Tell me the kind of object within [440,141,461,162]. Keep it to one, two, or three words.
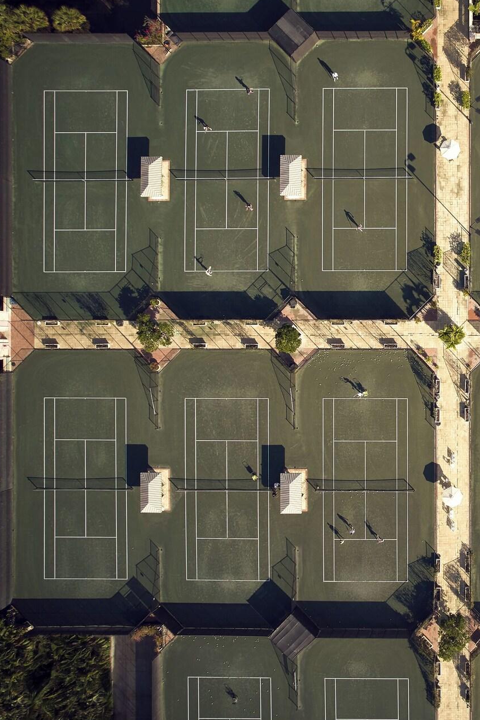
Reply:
umbrella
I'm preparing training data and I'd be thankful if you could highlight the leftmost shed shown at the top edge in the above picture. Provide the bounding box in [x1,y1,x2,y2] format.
[269,8,317,61]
